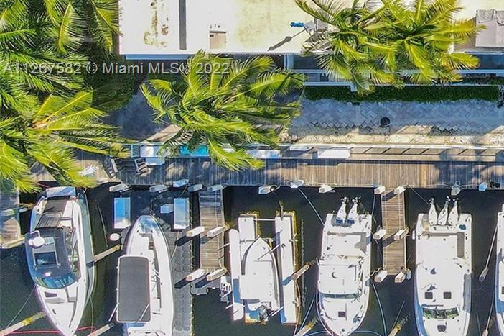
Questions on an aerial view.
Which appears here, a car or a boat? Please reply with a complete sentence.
The image shows a boat.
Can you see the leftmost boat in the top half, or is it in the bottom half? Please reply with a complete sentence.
The leftmost boat is in the bottom half of the image.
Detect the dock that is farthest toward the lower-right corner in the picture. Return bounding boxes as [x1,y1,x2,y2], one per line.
[382,189,406,272]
